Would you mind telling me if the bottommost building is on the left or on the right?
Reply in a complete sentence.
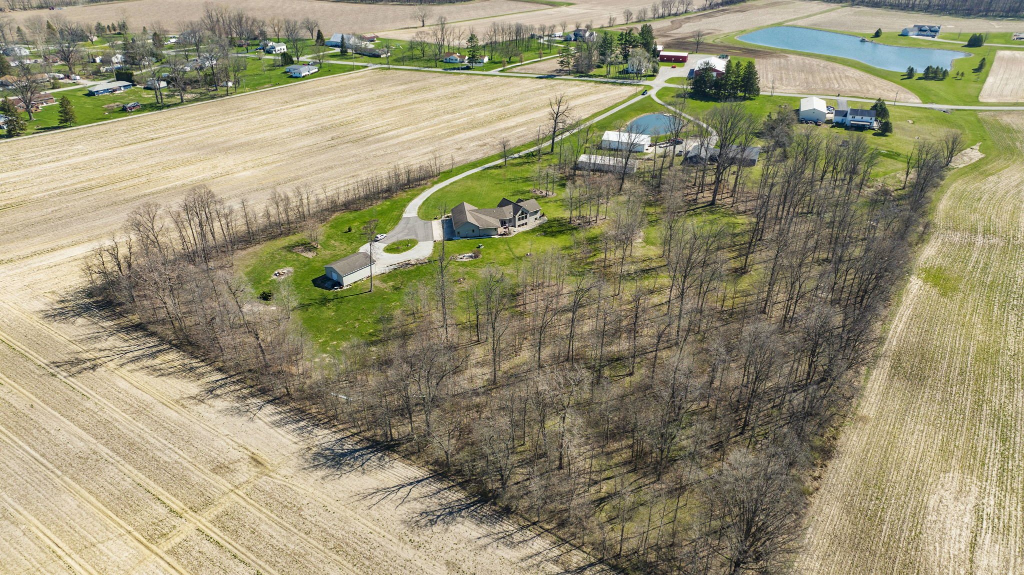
You can find the bottommost building on the left side of the picture.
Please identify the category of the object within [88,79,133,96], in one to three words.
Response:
house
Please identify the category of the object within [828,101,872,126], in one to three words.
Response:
house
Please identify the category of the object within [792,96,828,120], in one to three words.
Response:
barn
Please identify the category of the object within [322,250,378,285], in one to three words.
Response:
building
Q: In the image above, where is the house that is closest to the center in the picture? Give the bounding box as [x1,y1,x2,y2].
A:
[451,194,543,237]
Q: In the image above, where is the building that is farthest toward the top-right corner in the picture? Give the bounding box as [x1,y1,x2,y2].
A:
[896,21,941,36]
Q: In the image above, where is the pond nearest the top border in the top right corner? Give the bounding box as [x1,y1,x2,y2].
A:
[738,26,968,72]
